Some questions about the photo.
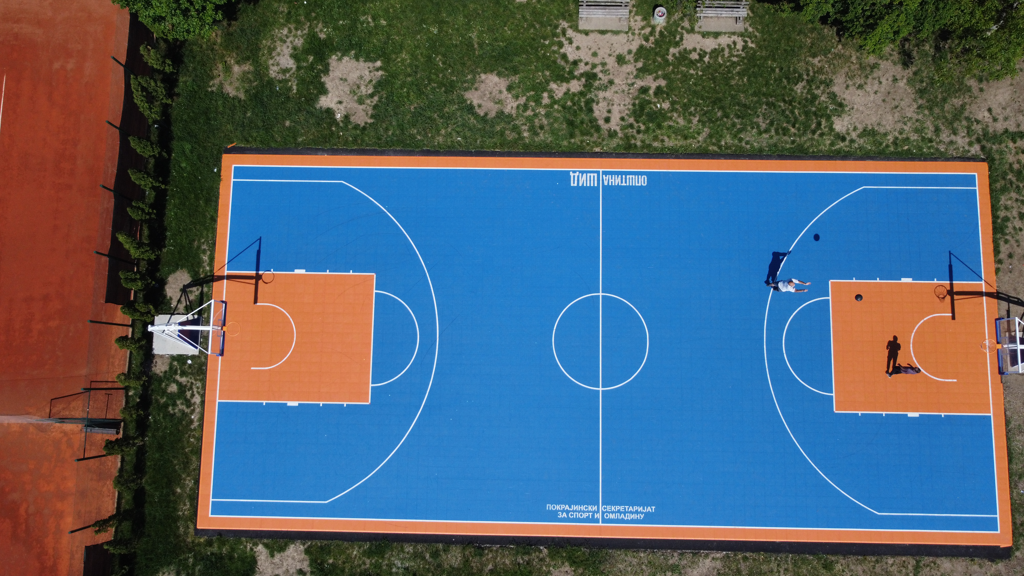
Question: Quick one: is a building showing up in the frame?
No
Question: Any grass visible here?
Yes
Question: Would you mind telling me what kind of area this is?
sports ground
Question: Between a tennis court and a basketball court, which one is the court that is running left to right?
basketball court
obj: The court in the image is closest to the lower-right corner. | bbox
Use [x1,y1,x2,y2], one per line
[195,146,1012,559]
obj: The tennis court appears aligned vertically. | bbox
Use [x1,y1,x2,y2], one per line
[0,0,132,576]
